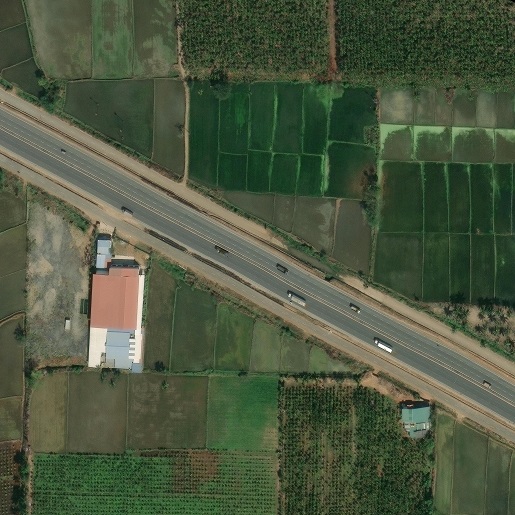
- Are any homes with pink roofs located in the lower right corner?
No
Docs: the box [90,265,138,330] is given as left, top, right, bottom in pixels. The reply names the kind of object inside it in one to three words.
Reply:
building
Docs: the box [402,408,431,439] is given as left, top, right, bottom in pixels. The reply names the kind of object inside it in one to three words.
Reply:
house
